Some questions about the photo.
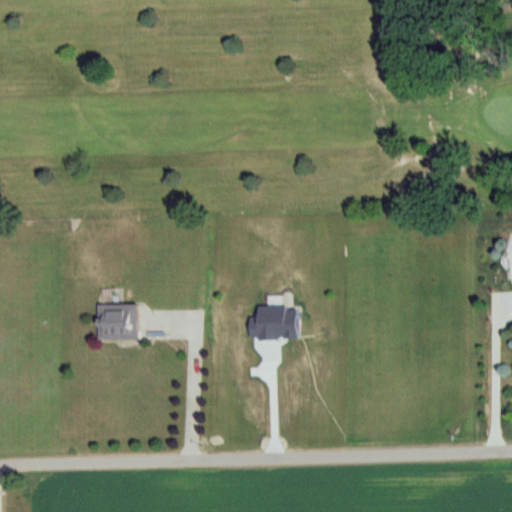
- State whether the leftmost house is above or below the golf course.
below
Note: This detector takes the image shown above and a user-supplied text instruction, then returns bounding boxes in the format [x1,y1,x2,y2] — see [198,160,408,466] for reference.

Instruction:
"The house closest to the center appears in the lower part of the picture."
[247,295,300,340]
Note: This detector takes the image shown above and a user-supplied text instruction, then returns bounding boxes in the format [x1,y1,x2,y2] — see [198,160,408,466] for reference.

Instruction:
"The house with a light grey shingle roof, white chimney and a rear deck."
[92,304,138,340]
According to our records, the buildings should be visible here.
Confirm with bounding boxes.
[92,304,138,340]
[501,234,512,285]
[247,295,300,340]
